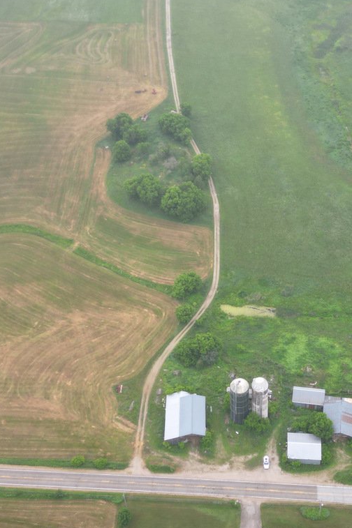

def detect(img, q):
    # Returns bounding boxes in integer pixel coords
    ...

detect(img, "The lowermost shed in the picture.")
[287,434,321,465]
